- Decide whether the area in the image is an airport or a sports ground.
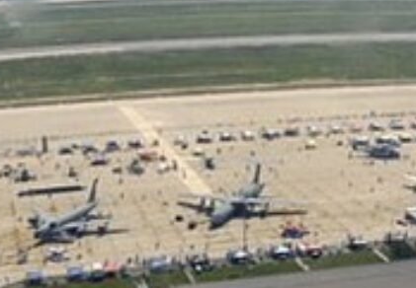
airport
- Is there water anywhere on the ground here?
No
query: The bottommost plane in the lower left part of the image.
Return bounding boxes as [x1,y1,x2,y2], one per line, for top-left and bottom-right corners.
[23,187,123,246]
